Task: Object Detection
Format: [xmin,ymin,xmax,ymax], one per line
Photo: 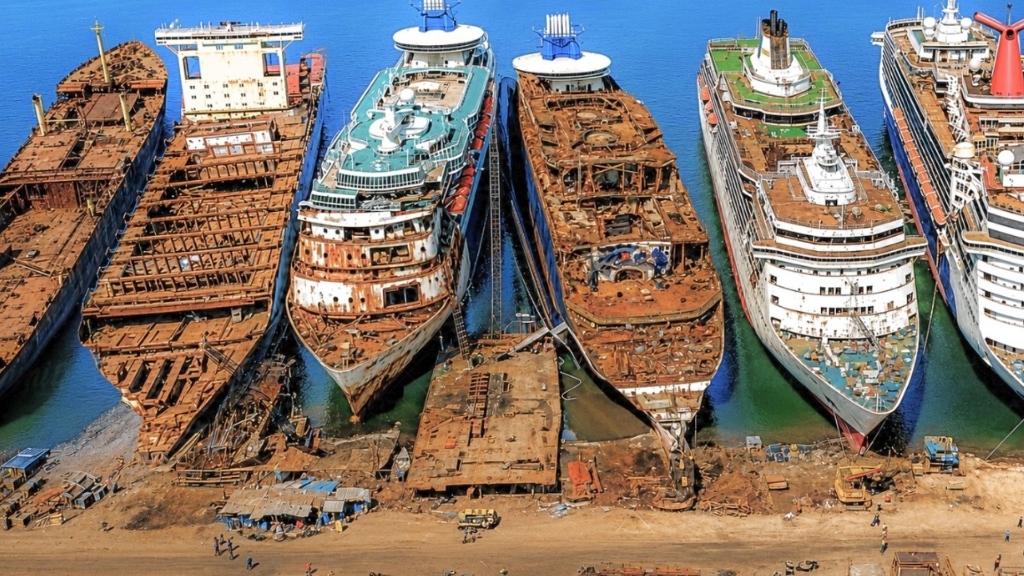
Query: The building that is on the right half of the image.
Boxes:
[745,431,767,456]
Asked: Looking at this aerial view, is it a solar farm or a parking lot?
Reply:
parking lot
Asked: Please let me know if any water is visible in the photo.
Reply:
Yes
